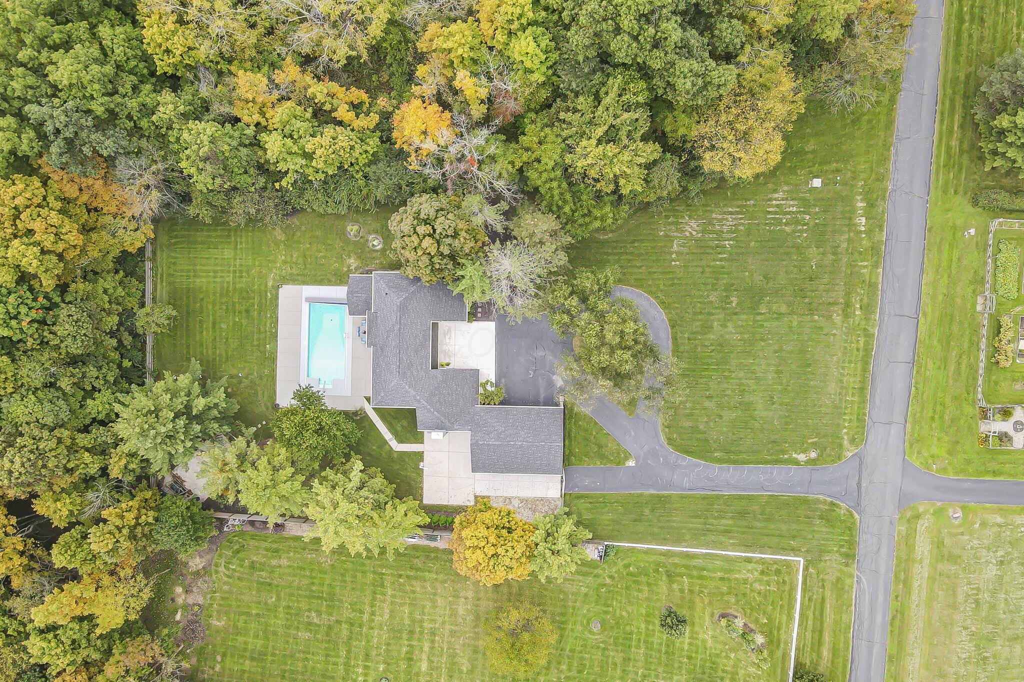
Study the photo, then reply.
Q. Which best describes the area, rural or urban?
rural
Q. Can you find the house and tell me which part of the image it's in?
center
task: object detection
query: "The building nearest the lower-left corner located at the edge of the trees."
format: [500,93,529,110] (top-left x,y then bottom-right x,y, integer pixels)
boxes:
[347,271,564,474]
